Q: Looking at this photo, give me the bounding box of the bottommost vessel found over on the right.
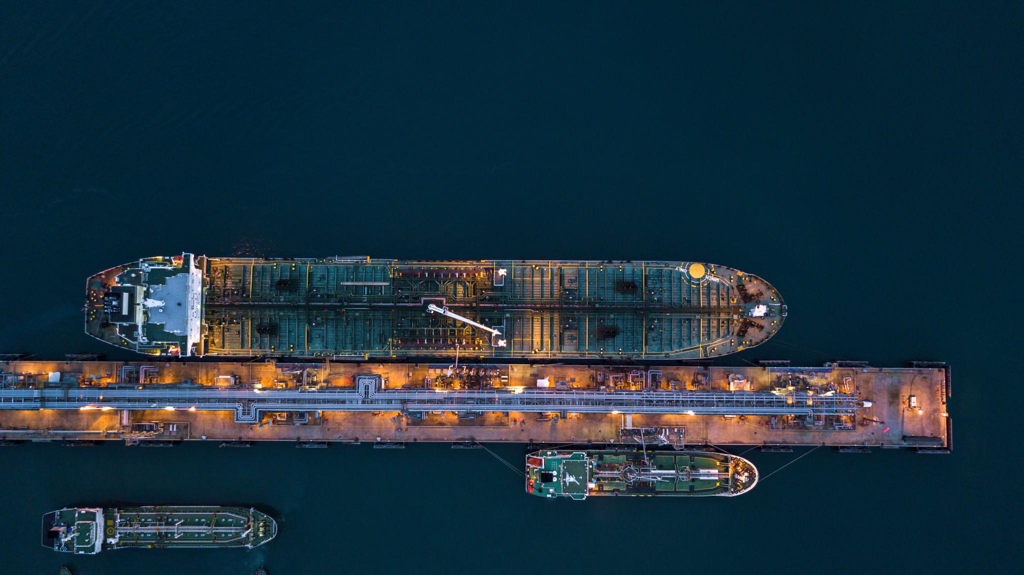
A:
[526,448,758,500]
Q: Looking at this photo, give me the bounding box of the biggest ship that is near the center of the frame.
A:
[81,251,787,360]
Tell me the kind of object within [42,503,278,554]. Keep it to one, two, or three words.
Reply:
ship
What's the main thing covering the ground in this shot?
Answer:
water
